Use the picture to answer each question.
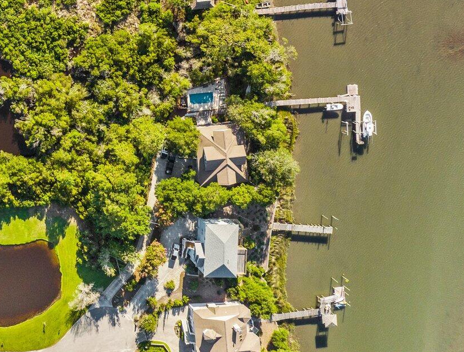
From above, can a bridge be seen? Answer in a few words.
No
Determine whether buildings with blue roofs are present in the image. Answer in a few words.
No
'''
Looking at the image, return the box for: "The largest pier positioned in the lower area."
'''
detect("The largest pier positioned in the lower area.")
[264,285,345,323]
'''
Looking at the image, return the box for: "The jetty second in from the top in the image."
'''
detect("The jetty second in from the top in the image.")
[266,84,363,145]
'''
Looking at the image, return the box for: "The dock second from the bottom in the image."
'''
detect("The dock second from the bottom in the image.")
[273,221,334,235]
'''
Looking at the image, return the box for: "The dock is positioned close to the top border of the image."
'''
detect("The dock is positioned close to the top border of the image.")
[257,0,346,15]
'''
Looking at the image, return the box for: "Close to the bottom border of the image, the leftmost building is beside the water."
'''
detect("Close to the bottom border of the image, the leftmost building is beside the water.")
[179,291,277,352]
